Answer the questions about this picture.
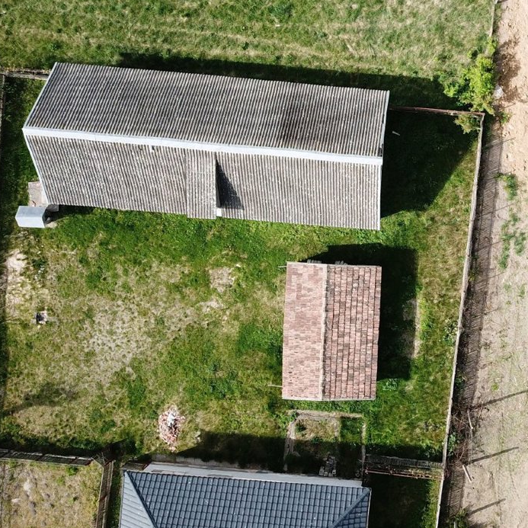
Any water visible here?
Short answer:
No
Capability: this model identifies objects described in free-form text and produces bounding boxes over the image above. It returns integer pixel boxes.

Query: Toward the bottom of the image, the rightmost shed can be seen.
[268,260,382,403]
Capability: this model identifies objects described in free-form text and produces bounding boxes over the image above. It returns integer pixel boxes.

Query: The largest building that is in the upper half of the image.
[19,61,391,232]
